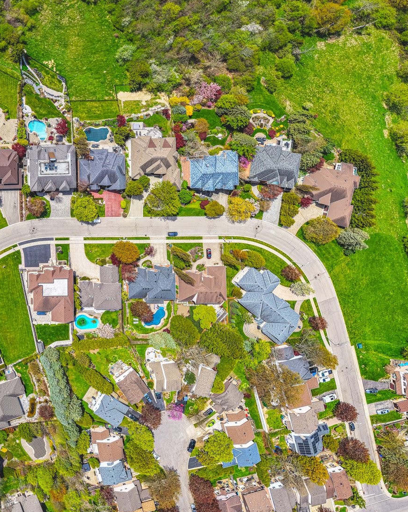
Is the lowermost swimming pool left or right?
left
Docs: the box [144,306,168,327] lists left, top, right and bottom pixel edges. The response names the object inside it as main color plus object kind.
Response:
blue swimming pool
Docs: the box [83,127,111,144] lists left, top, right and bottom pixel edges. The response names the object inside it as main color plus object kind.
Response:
blue swimming pool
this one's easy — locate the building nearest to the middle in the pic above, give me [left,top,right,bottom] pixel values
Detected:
[176,265,226,304]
